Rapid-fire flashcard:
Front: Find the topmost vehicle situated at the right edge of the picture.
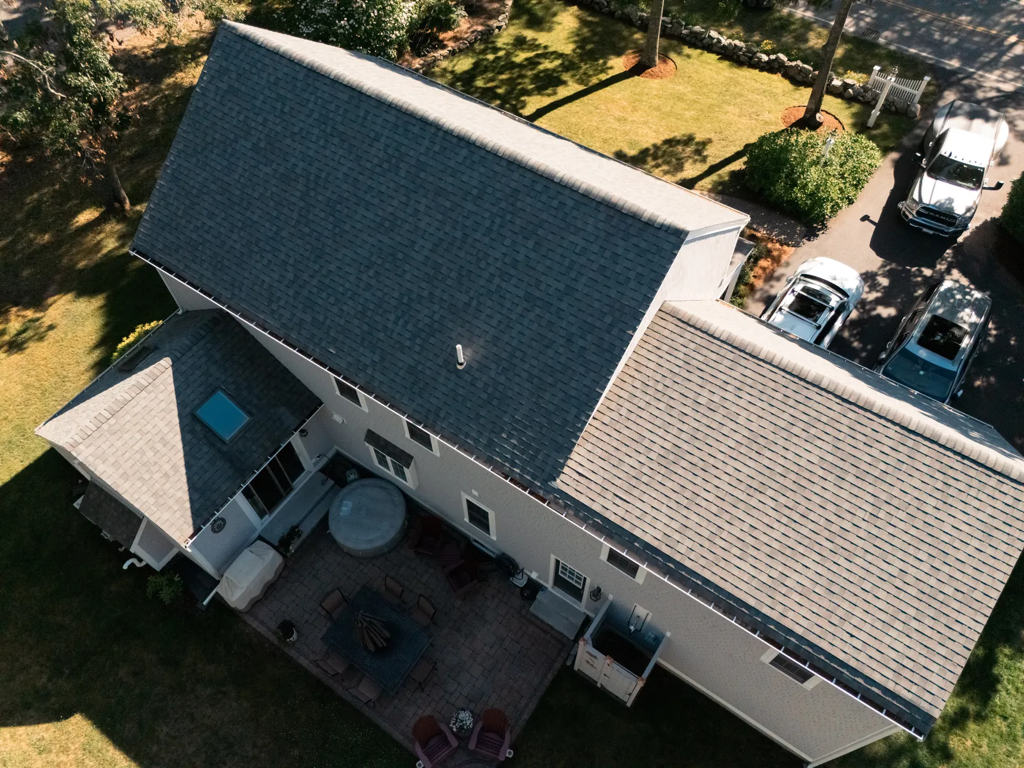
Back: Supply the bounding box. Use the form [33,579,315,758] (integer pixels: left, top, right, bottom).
[896,95,1009,242]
